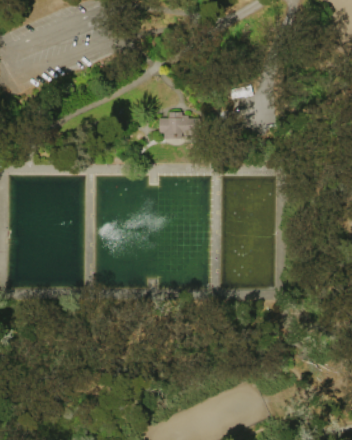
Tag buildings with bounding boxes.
[159,111,195,139]
[231,86,254,99]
